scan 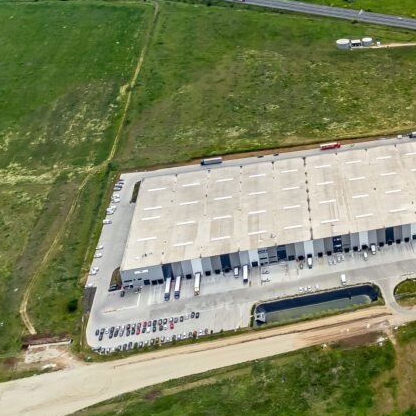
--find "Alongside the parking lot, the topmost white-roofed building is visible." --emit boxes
[120,143,416,287]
